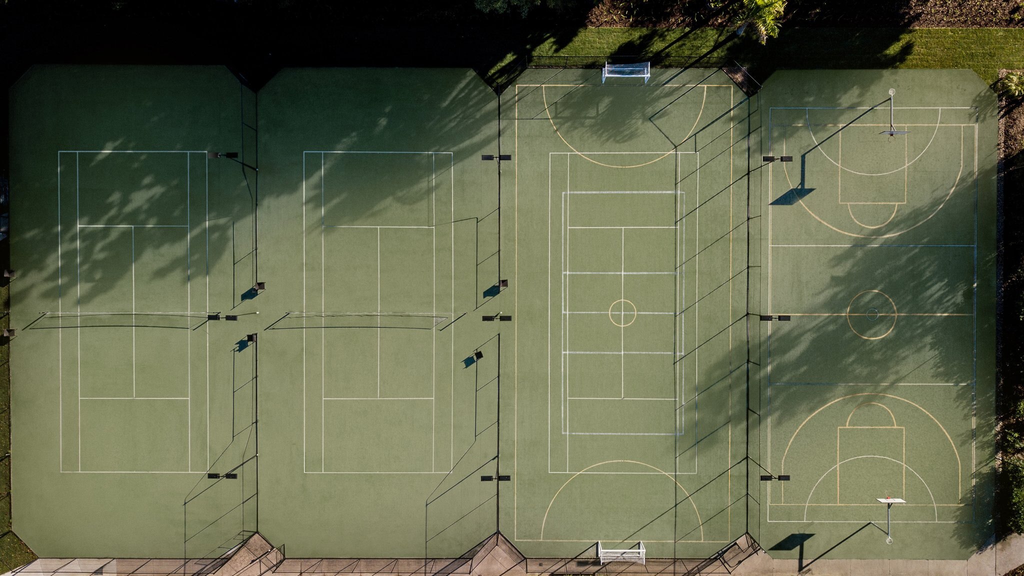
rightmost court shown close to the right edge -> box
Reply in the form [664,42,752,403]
[749,69,998,560]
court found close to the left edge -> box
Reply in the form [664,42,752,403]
[10,65,257,559]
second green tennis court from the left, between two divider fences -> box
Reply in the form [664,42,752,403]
[257,67,499,558]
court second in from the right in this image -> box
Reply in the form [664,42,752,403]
[499,68,749,559]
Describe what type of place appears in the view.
sports ground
